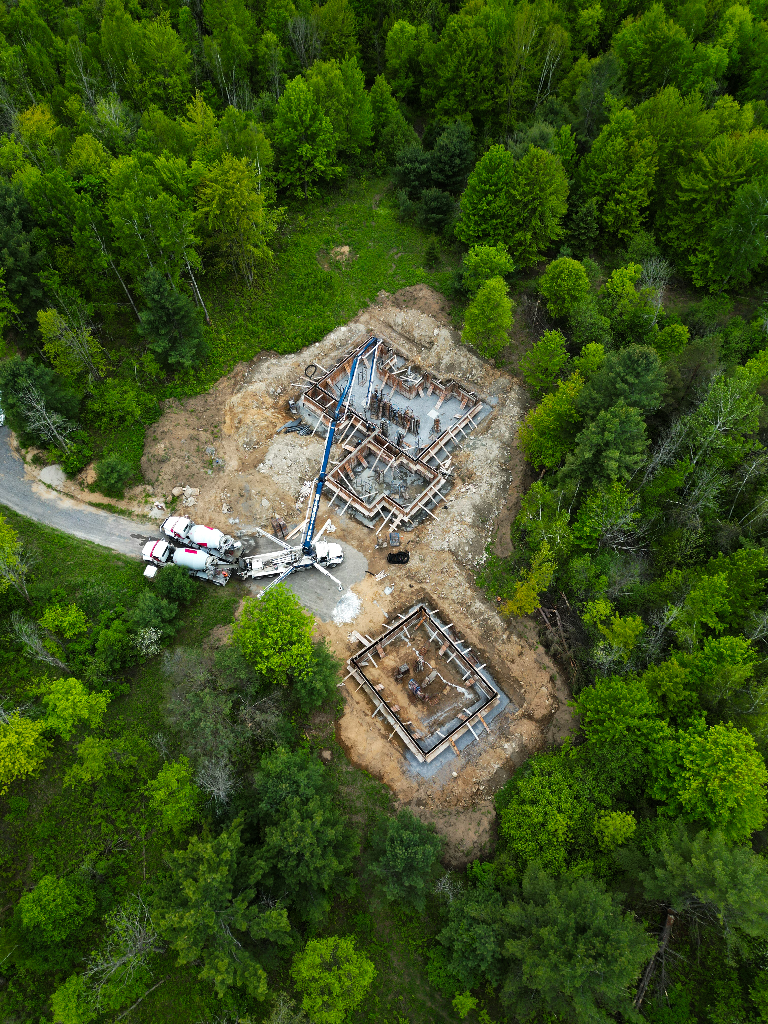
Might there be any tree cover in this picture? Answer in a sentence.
Yes, tree cover can be seen from above here.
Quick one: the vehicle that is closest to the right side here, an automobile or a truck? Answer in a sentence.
The vehicle that is closest to the right side can be classified as a truck.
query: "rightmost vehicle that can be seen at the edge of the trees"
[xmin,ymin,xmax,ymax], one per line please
[238,336,383,596]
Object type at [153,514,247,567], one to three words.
truck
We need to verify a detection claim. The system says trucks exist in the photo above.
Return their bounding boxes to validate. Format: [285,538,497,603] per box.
[238,336,383,596]
[153,514,247,567]
[138,539,242,588]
